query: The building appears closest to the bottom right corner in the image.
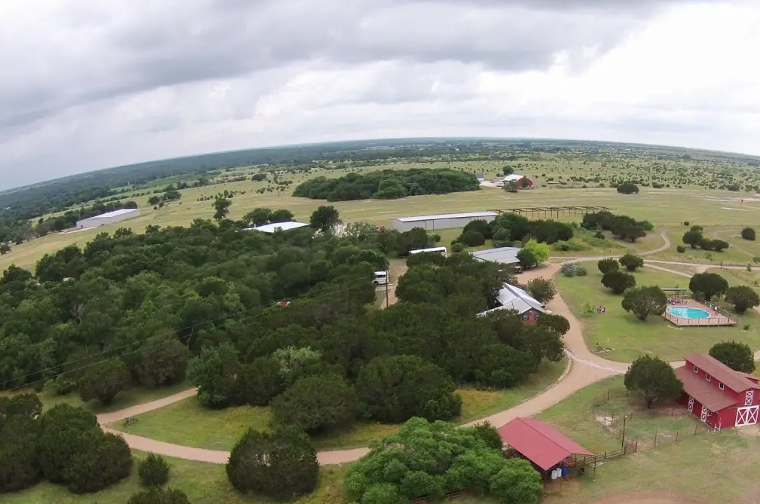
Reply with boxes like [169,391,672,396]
[665,351,760,429]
